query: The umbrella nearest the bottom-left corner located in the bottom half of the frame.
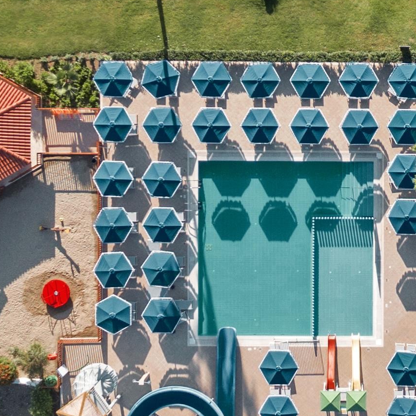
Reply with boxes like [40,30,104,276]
[97,295,133,336]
